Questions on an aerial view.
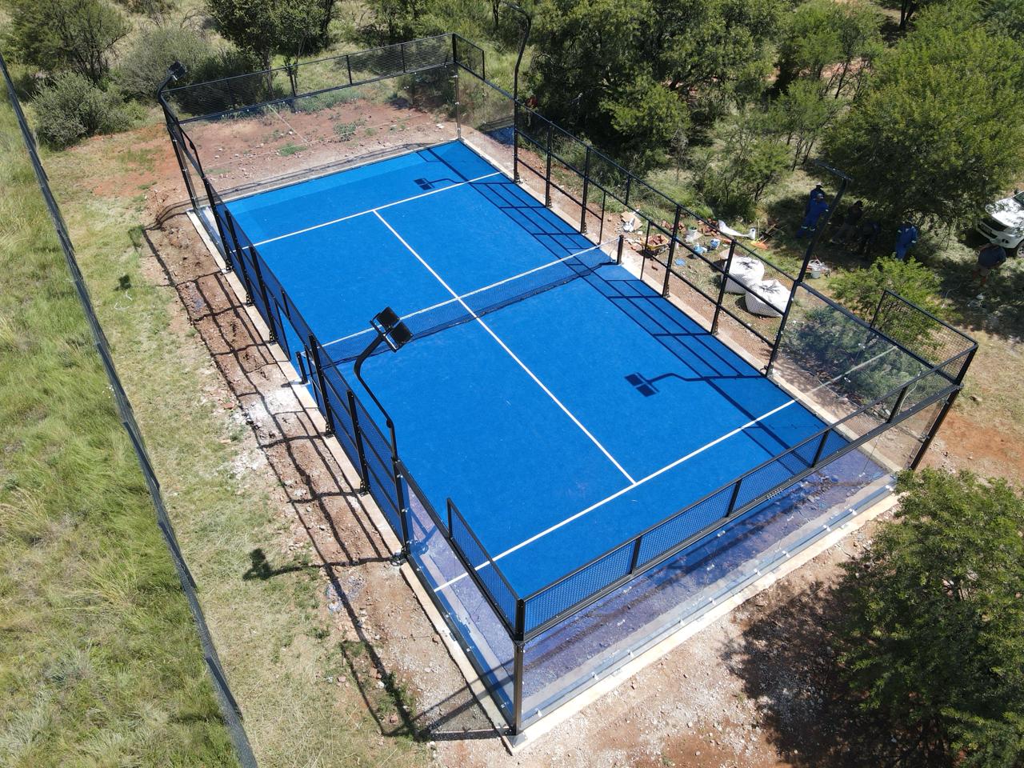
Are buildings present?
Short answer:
No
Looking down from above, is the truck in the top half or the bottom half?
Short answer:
top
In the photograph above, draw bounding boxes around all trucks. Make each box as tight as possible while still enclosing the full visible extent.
[971,189,1024,261]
